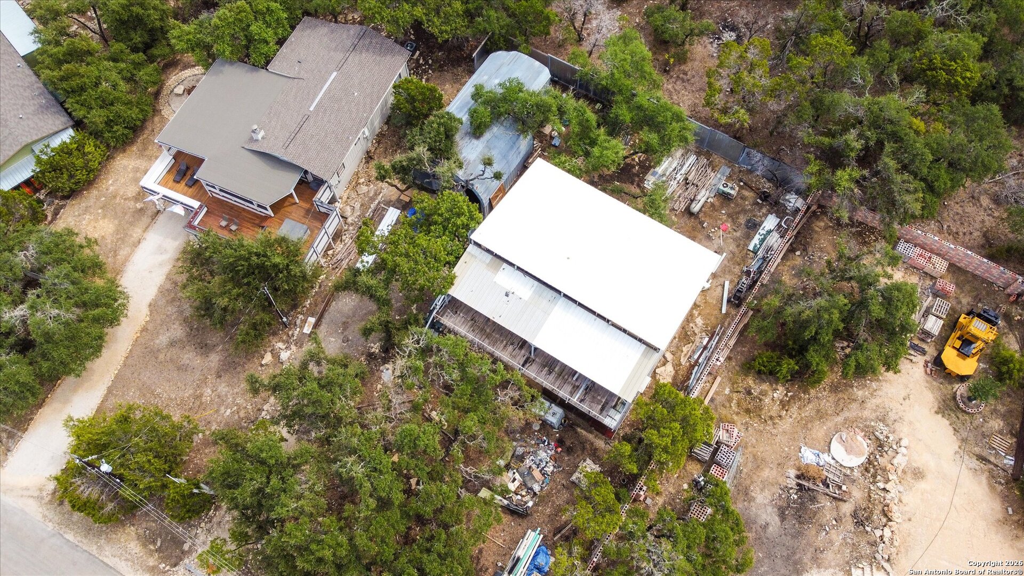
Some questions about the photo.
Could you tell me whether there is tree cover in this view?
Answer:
Yes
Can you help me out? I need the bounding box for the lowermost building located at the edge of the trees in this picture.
[431,158,726,438]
